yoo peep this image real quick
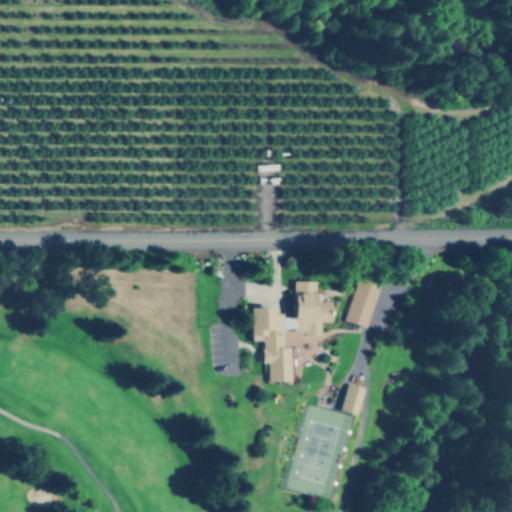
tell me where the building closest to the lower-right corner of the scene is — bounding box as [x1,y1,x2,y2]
[342,384,367,416]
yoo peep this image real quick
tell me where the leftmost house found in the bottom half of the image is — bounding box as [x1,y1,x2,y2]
[254,282,338,384]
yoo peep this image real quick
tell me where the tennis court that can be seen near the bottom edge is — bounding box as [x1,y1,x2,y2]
[282,404,354,498]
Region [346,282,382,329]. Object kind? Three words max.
building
